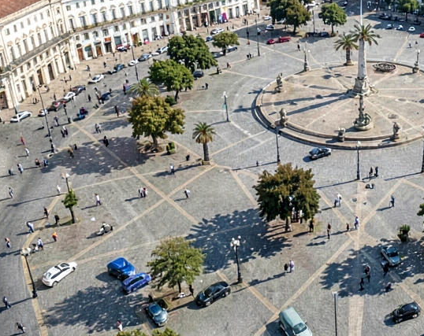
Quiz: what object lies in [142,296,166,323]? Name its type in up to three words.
car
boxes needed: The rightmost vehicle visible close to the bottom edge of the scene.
[388,299,418,323]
